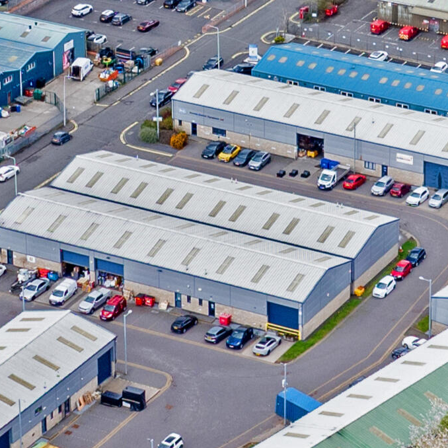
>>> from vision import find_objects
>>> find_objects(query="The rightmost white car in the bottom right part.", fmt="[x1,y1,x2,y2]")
[398,335,426,349]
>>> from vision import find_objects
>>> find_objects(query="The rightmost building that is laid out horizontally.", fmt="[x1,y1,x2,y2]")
[375,0,448,31]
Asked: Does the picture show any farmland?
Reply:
No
